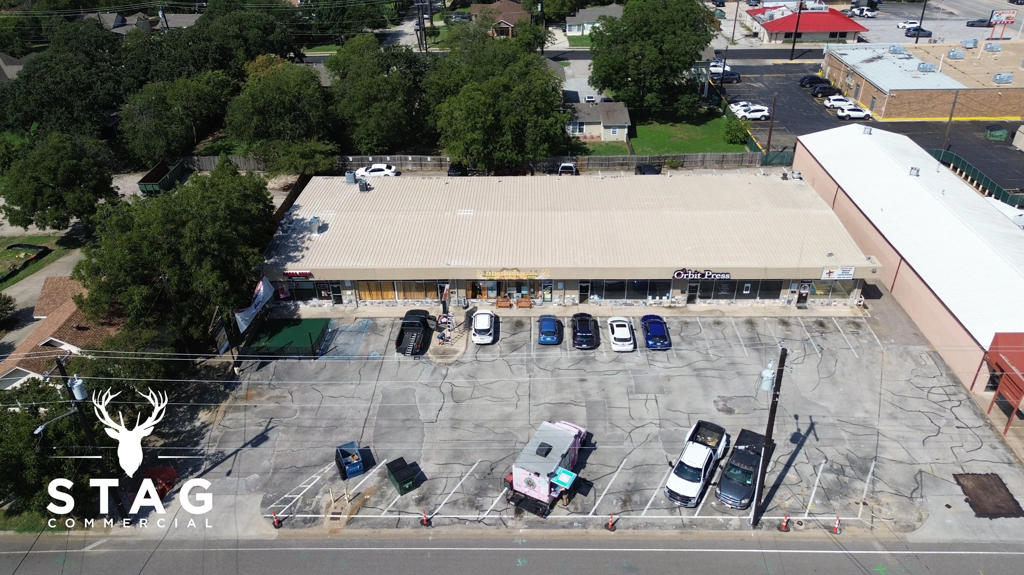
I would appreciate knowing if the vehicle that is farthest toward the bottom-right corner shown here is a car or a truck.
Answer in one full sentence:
I'd say the vehicle that is farthest toward the bottom-right corner is a truck.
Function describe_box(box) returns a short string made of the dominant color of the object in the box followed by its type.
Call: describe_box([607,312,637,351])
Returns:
white car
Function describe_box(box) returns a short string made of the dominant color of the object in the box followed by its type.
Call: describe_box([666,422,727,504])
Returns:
white truck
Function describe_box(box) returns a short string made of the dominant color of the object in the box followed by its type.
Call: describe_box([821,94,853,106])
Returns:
white vehicle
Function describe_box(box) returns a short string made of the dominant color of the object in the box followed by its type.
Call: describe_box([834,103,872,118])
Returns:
white car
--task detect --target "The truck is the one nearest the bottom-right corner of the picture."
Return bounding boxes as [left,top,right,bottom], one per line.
[718,427,778,508]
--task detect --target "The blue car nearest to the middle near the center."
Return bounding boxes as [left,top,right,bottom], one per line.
[534,310,561,343]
